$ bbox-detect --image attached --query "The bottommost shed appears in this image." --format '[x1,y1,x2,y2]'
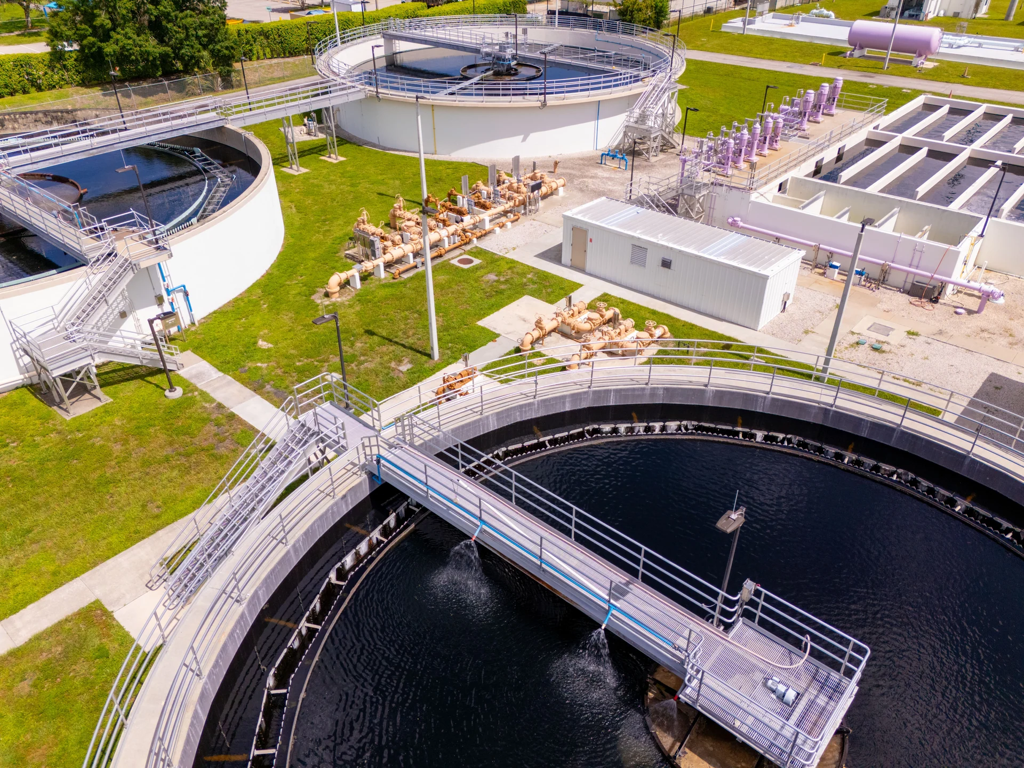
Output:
[559,197,812,328]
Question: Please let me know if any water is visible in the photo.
Yes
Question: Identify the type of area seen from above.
industrial area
